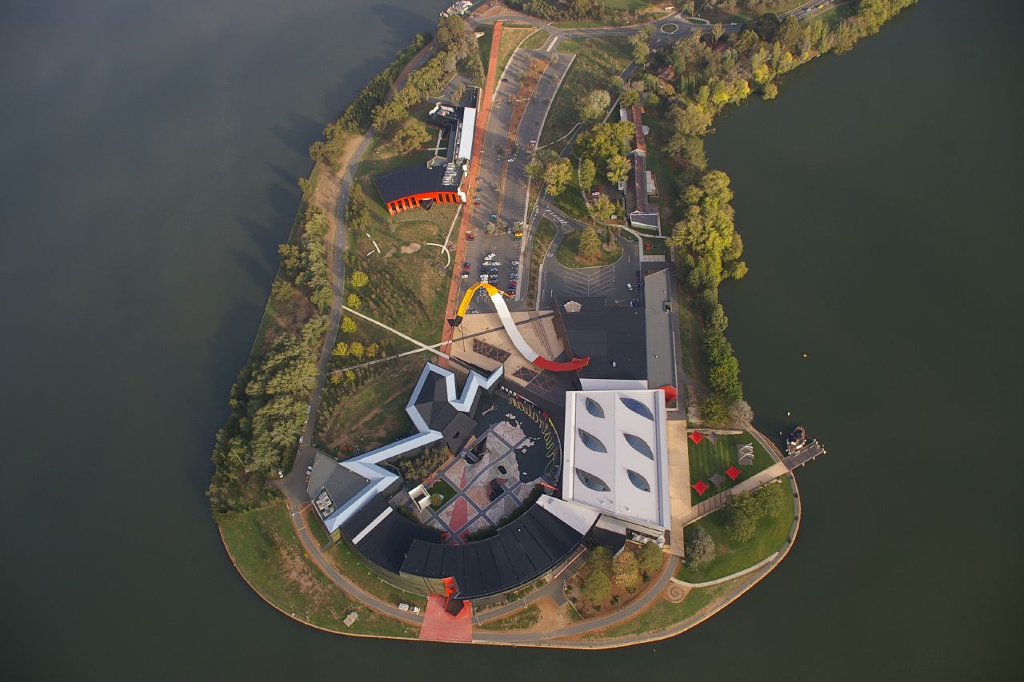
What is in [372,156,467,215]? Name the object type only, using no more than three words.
building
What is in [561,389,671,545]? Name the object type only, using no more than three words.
building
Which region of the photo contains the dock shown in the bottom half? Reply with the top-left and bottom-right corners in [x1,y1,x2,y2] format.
[782,440,827,470]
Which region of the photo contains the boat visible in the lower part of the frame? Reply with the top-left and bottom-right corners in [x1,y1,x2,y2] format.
[788,428,804,452]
